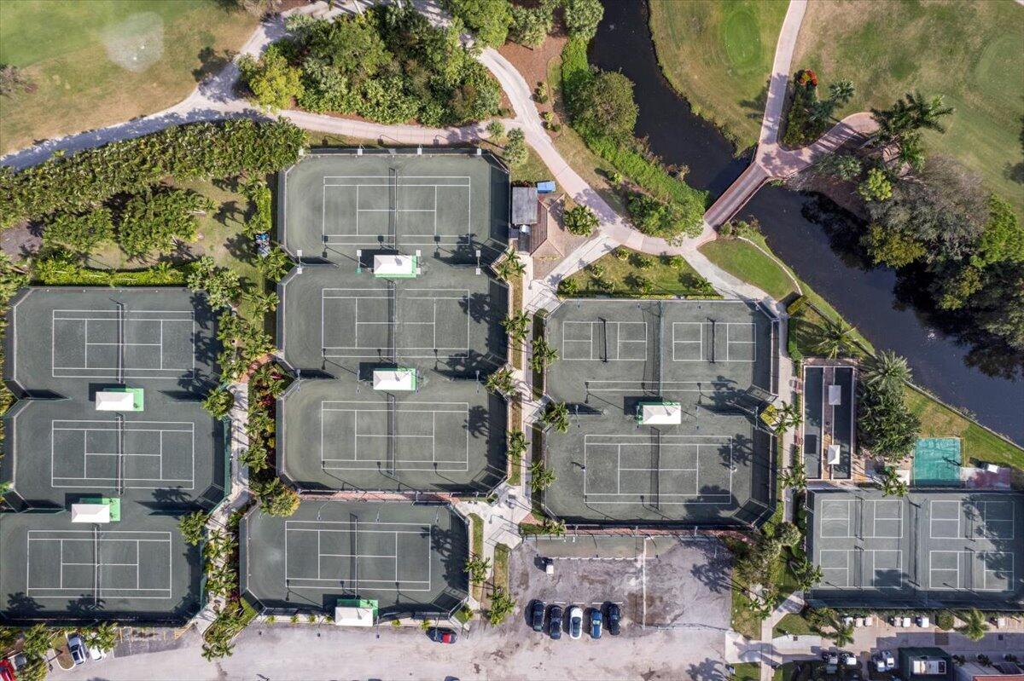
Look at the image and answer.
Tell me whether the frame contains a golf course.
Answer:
Yes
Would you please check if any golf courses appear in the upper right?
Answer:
Yes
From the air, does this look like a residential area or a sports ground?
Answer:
sports ground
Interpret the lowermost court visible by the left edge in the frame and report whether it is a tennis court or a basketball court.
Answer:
tennis court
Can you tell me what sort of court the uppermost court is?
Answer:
tennis court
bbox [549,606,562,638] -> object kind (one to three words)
vehicle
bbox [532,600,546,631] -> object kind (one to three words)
car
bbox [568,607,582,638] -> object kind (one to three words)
car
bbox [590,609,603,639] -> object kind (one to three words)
vehicle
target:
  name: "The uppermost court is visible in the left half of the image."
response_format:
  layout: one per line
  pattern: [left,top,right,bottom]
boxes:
[286,155,507,265]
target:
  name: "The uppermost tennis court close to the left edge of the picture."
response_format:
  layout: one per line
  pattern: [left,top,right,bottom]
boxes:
[16,289,225,399]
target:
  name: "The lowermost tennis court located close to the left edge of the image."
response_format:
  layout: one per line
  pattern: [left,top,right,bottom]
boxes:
[2,509,207,619]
